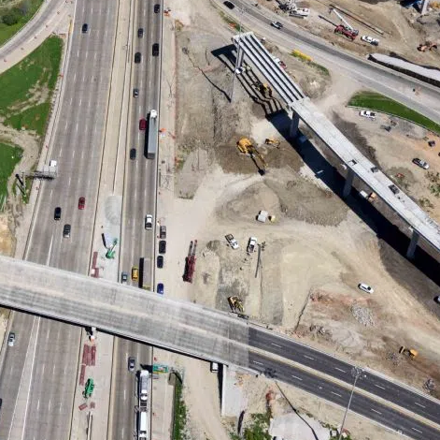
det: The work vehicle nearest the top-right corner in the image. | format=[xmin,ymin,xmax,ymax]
[406,34,437,51]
